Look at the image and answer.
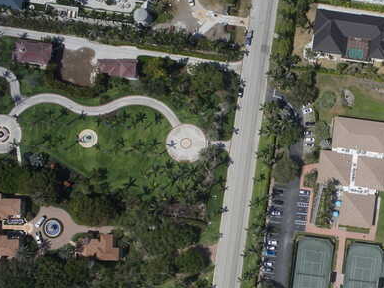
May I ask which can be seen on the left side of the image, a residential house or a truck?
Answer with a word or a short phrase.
residential house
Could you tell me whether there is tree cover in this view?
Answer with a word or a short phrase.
Yes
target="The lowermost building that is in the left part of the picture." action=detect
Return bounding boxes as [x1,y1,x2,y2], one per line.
[80,231,123,260]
